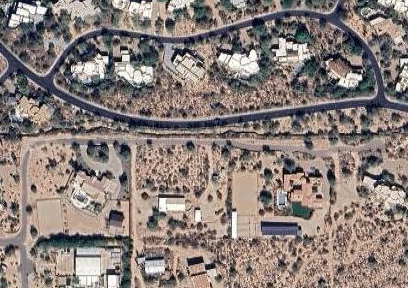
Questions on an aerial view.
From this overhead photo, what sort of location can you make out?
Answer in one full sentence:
This looks like a residential area.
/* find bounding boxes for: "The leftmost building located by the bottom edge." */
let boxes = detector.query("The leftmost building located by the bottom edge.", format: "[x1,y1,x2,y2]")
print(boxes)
[75,249,101,286]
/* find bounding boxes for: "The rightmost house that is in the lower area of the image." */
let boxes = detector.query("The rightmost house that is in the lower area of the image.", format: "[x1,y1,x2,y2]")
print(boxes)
[361,174,408,210]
